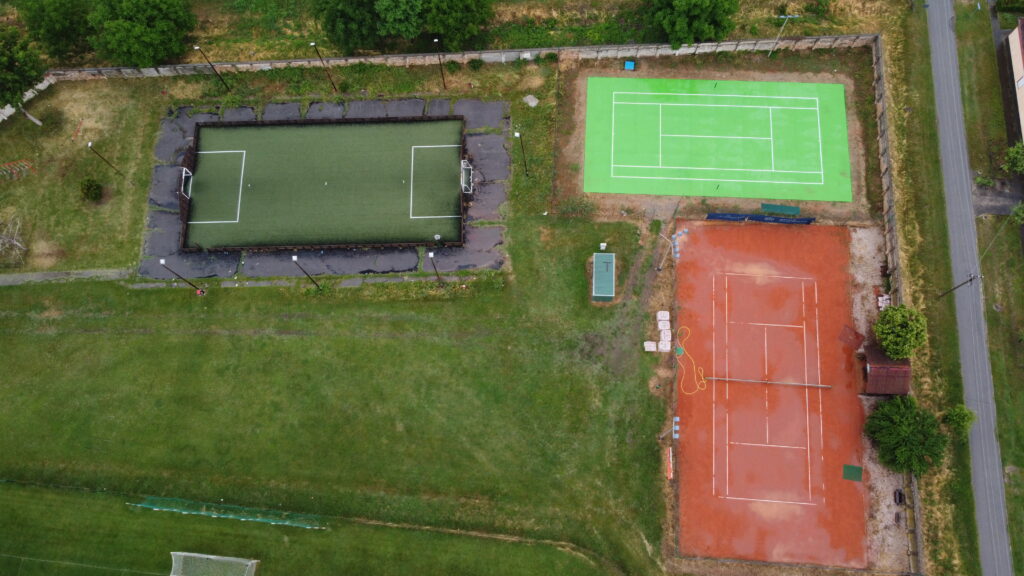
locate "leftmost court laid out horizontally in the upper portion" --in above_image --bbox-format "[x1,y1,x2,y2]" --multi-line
[584,77,852,201]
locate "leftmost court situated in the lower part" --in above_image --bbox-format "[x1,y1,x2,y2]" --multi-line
[676,222,867,568]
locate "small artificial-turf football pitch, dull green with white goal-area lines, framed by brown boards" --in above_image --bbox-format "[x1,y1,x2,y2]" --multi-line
[183,121,464,249]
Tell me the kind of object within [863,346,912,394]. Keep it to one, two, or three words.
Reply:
shed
